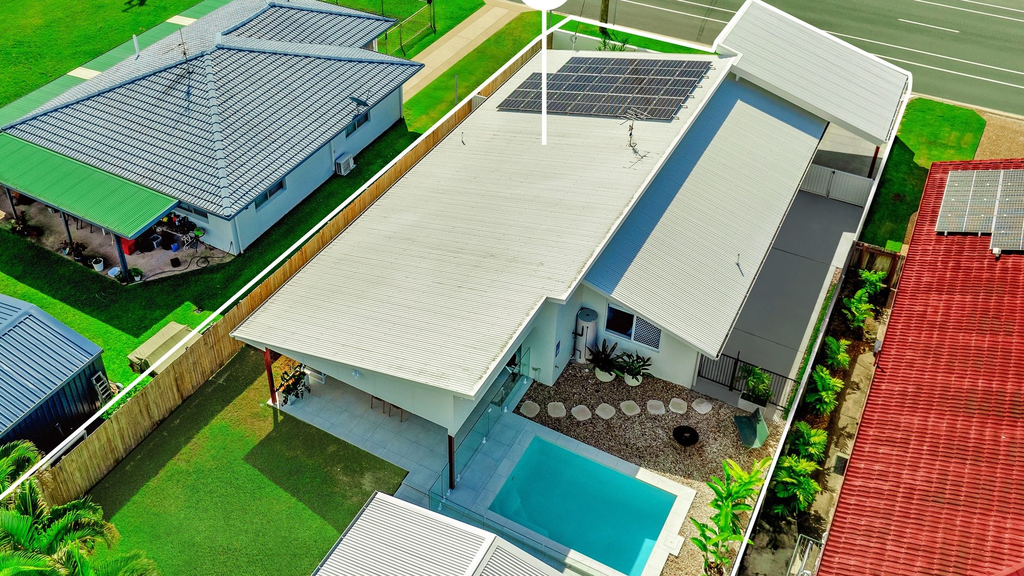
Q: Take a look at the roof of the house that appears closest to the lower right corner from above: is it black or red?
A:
red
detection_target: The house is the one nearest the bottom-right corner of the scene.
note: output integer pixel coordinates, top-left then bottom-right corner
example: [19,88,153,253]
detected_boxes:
[810,155,1024,576]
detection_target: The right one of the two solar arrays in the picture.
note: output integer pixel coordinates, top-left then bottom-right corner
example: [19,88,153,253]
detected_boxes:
[935,164,1024,257]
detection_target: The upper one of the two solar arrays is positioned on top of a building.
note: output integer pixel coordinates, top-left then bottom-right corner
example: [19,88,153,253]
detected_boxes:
[498,55,716,122]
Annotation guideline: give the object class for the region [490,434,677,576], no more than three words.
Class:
swimming pool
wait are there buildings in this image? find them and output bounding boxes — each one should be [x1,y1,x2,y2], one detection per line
[307,489,566,576]
[810,155,1024,576]
[0,0,427,253]
[0,294,113,508]
[224,45,831,489]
